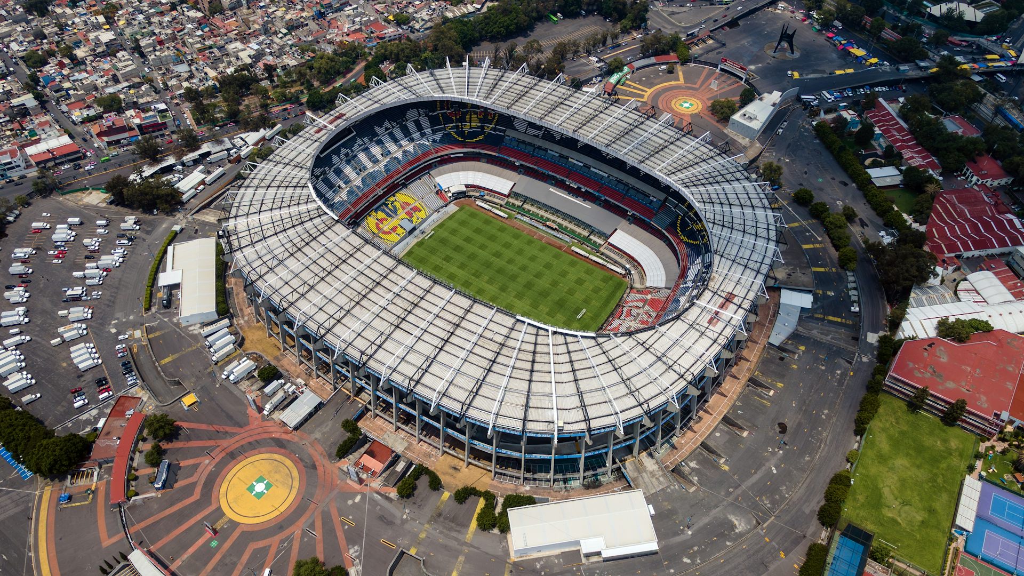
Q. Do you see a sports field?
Yes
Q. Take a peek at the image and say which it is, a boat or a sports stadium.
sports stadium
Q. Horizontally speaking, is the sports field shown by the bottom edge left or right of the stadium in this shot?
to the right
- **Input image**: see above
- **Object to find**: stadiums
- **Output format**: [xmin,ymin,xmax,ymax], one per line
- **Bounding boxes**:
[215,55,786,484]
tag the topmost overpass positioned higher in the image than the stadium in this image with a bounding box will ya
[704,0,775,32]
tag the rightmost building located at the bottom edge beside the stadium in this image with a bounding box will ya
[507,488,657,558]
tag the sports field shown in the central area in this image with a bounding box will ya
[400,204,630,335]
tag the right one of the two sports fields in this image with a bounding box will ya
[840,393,975,576]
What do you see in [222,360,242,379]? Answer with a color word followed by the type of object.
white vehicle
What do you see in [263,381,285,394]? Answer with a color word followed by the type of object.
white vehicle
